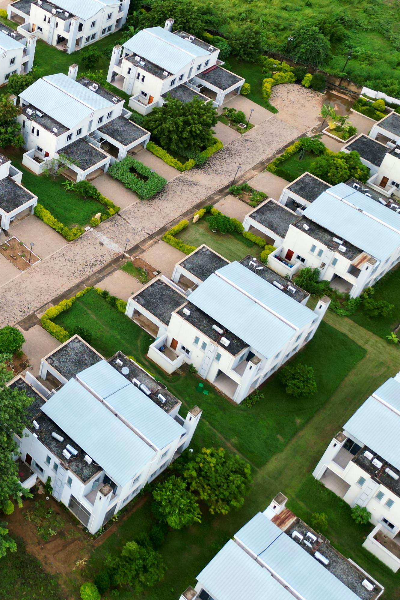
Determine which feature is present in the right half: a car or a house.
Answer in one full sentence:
It is a house that can be seen in the right half.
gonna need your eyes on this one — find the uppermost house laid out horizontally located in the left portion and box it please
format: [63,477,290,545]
[7,0,132,53]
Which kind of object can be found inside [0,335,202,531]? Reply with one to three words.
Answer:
house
